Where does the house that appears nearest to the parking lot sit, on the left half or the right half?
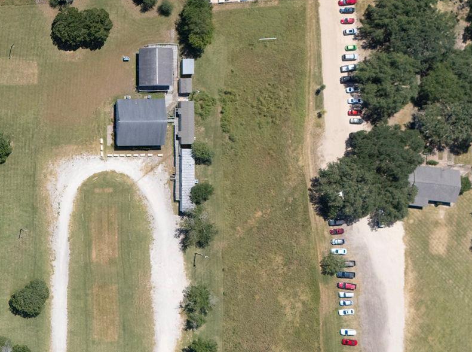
right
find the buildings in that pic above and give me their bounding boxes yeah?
[136,47,173,86]
[407,169,462,205]
[180,59,194,74]
[177,78,191,93]
[179,148,195,212]
[114,99,168,145]
[178,102,194,145]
